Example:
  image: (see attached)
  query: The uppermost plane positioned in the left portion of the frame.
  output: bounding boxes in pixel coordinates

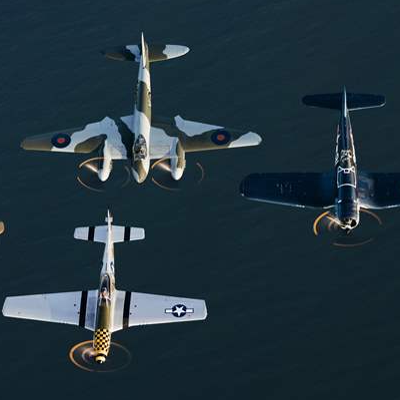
[20,30,261,193]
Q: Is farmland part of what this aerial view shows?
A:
No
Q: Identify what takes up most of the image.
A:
water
